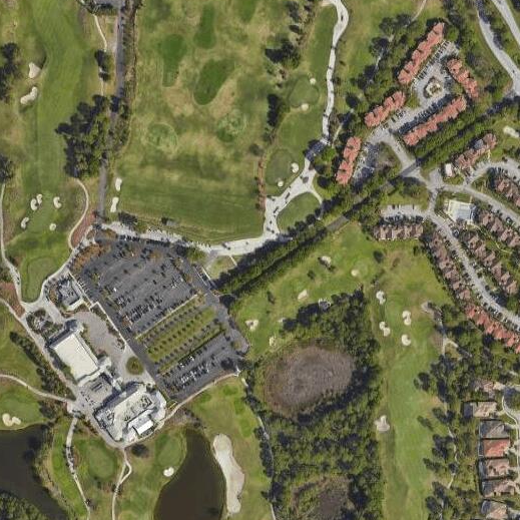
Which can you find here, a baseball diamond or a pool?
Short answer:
pool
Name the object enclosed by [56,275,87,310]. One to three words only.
building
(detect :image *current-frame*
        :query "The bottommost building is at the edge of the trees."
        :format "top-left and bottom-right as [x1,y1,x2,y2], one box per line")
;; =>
[481,500,509,519]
